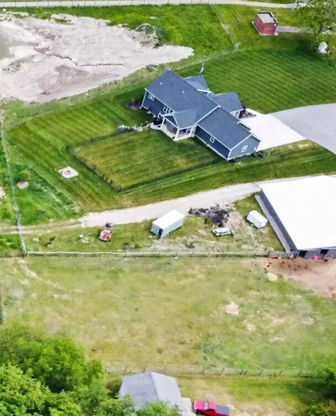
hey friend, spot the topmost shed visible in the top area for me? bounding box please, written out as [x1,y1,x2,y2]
[253,10,280,35]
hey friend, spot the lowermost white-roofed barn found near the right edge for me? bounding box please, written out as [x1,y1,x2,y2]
[256,176,336,266]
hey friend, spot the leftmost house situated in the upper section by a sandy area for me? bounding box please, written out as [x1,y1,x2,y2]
[142,70,260,161]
